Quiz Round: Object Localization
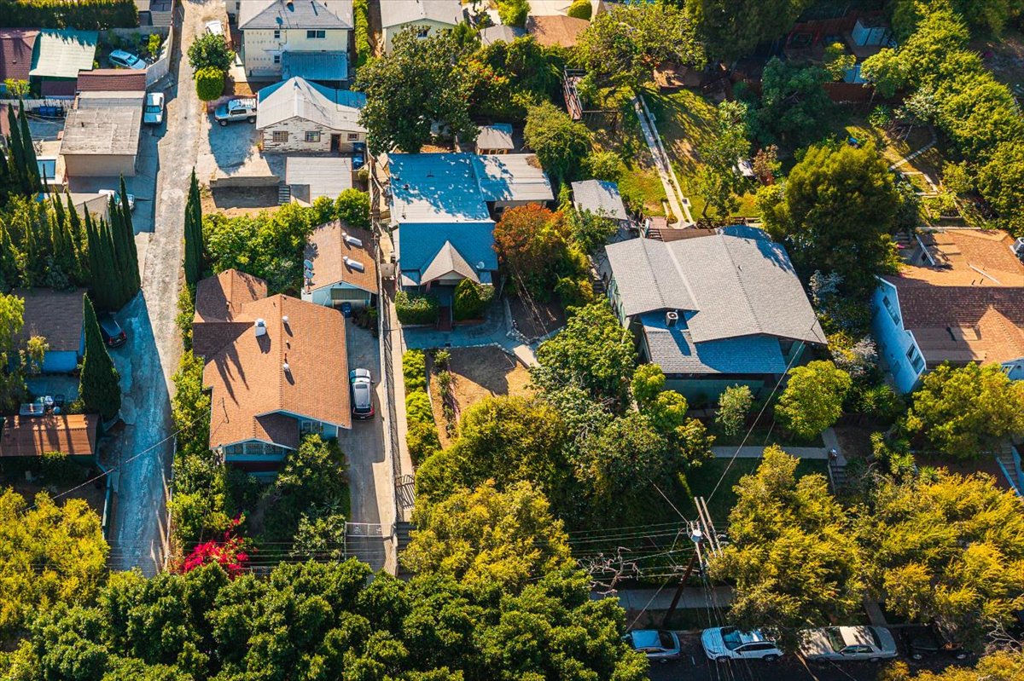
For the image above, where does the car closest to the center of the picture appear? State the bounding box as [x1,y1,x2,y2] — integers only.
[349,372,377,422]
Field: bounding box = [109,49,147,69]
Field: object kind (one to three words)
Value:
car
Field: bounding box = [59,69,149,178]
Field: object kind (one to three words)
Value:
building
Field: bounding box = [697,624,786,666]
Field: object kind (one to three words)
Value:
car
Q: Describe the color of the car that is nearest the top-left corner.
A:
blue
